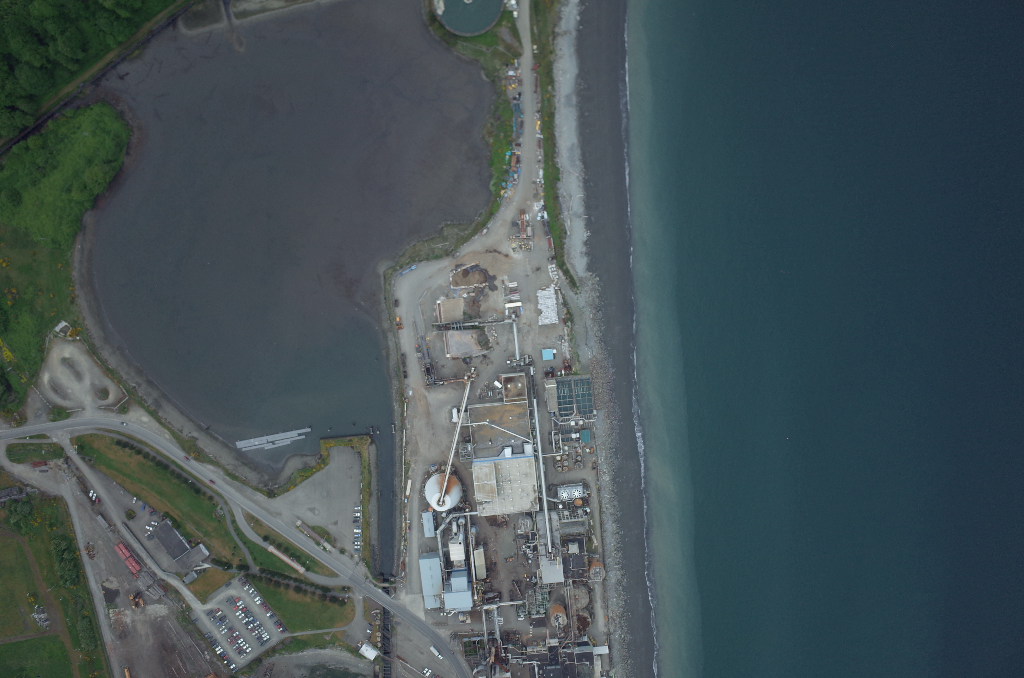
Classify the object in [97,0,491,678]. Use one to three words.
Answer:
pond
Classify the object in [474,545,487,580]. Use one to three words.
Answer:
building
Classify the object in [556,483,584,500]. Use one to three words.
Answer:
cooling tower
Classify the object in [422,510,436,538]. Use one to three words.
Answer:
shed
